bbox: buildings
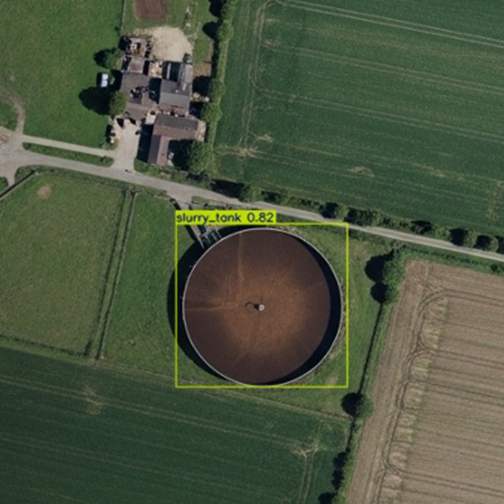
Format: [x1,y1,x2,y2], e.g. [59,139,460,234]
[147,113,200,167]
[159,61,195,113]
[122,71,157,120]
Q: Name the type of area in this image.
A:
farmland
